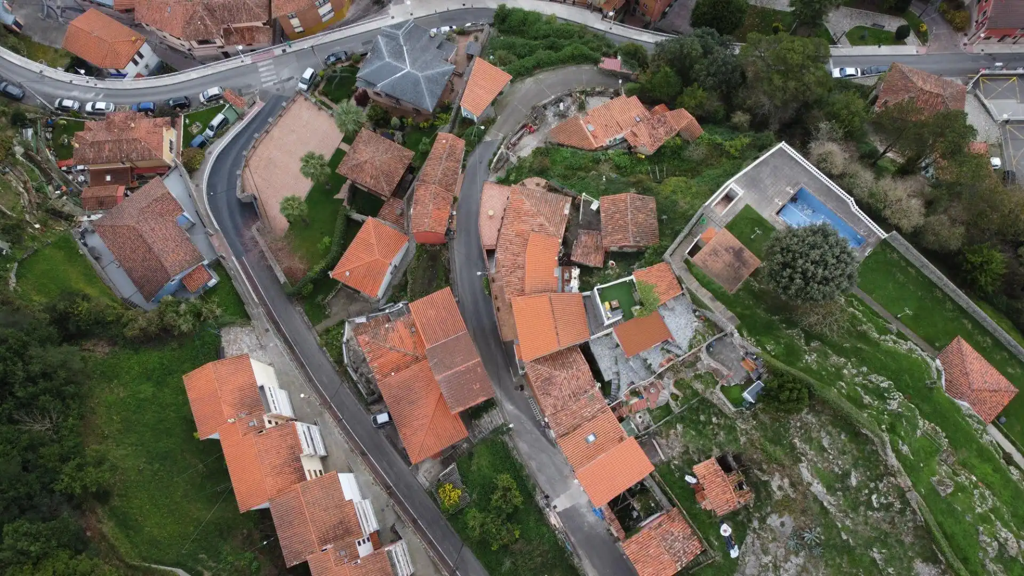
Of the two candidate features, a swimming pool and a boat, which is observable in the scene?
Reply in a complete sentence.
Looking from above, you can make out a swimming pool.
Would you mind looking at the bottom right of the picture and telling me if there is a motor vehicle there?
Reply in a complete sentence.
No, at the bottom right of the picture there is no motor vehicle.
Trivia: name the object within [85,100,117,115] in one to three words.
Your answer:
car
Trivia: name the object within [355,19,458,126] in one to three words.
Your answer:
house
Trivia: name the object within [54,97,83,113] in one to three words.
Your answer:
car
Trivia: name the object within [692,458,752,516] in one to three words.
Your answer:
shed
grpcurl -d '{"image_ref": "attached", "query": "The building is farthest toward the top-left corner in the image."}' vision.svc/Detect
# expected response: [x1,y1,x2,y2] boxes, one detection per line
[0,2,34,43]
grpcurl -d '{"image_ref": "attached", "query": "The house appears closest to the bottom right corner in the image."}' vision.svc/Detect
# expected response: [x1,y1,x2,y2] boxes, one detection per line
[932,335,1020,424]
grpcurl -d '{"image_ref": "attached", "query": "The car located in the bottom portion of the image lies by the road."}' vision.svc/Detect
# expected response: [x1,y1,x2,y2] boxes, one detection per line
[367,412,395,429]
